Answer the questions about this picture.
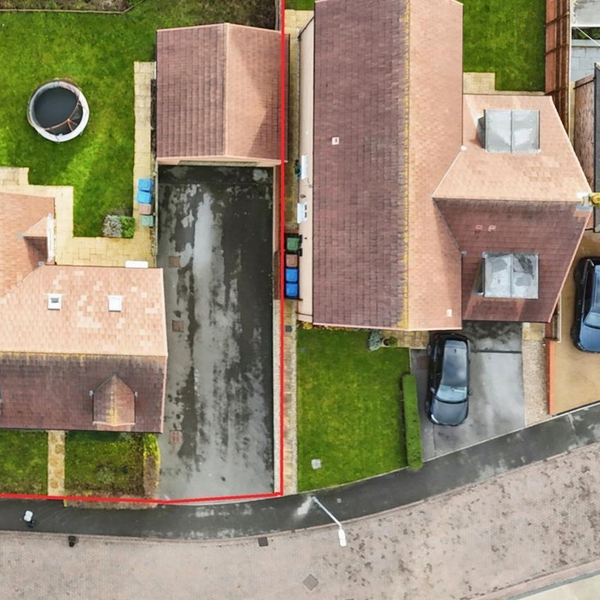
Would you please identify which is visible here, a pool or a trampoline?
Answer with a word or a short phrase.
trampoline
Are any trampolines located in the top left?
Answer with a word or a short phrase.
Yes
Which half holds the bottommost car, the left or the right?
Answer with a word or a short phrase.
right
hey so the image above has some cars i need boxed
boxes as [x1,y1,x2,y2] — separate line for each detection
[425,331,476,427]
[570,257,600,353]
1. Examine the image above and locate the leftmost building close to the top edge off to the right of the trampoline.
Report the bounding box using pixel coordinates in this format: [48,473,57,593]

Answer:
[154,15,291,169]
